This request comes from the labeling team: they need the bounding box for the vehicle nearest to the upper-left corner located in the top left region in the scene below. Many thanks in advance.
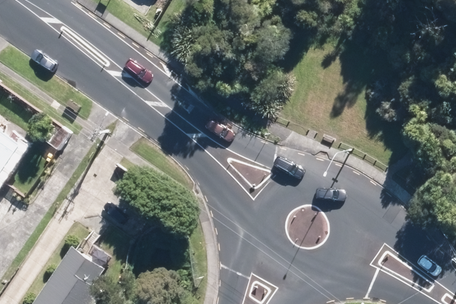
[32,48,60,74]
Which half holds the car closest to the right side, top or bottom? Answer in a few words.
bottom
